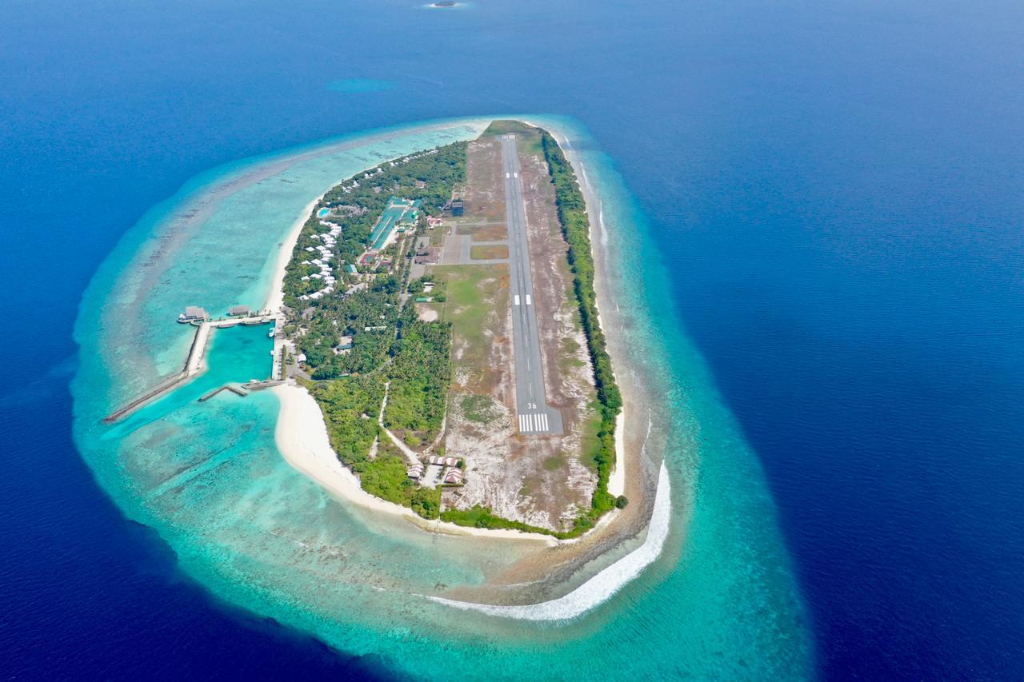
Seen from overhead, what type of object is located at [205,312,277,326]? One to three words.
pier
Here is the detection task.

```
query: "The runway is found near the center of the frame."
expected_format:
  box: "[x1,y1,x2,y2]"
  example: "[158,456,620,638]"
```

[495,133,564,435]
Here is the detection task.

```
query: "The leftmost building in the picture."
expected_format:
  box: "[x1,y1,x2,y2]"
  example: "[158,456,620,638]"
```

[173,308,209,326]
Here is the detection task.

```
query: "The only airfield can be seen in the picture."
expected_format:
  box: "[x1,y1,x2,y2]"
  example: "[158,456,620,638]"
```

[439,133,564,435]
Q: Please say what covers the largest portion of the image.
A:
water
